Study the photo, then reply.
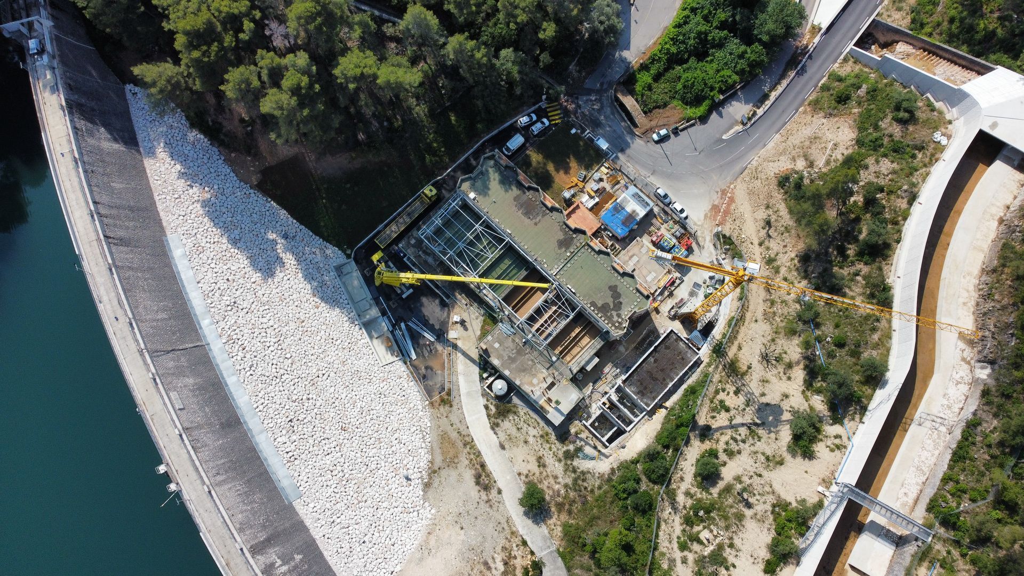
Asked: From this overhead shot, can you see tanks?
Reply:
Yes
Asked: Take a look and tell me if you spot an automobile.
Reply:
Yes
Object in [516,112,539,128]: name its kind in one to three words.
car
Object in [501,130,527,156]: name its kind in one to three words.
vehicle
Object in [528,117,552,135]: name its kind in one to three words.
car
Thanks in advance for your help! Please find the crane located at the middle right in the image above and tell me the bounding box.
[648,249,986,342]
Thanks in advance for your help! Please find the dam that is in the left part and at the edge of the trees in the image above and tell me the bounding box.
[12,0,336,576]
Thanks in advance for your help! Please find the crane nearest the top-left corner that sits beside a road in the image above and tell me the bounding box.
[366,248,551,308]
